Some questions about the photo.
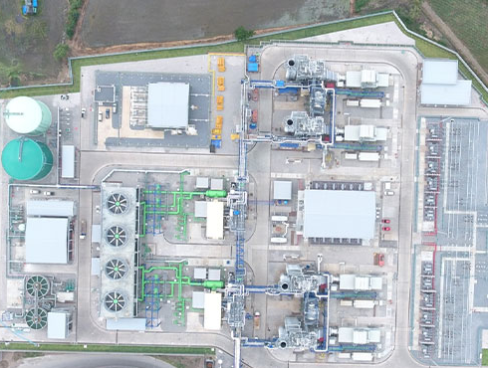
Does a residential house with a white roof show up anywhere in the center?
Yes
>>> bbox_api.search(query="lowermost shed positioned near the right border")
[418,81,472,108]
